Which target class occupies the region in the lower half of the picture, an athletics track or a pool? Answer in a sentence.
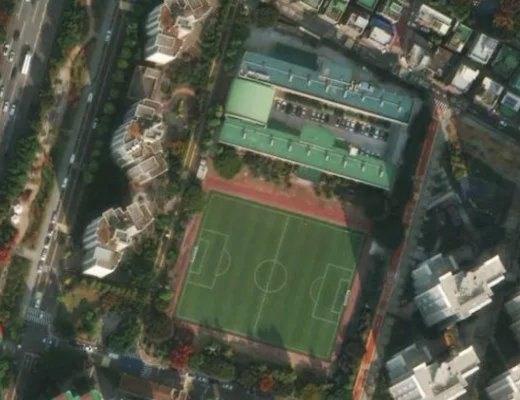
You can see an athletics track in the lower half of the picture.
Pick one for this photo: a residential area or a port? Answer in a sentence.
The area seen from above is a residential area.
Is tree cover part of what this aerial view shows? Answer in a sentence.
Yes, some tree cover is visible.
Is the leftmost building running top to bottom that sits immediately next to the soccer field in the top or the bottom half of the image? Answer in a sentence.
It is in the top half that the leftmost building running top to bottom that sits immediately next to the soccer field appears.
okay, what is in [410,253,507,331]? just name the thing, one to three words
building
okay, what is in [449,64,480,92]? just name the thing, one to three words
house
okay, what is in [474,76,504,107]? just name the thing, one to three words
house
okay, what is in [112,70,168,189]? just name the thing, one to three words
building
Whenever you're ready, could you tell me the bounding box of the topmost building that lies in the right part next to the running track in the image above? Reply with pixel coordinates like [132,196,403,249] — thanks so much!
[216,51,413,191]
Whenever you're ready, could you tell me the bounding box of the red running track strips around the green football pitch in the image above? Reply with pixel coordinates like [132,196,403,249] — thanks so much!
[169,173,376,369]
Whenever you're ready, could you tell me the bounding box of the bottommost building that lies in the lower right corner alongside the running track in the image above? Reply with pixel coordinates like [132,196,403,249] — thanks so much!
[385,345,482,400]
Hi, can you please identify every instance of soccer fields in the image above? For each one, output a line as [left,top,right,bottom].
[176,188,362,362]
